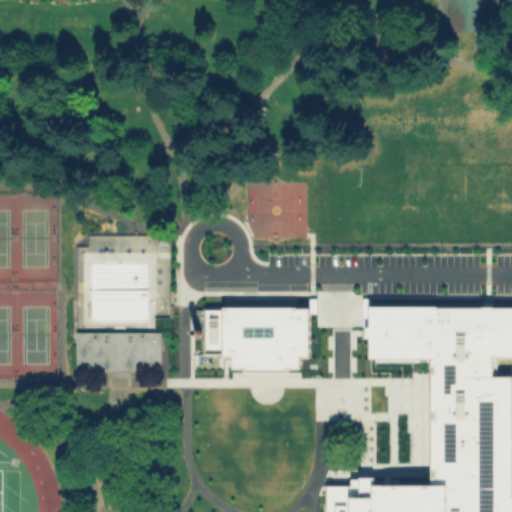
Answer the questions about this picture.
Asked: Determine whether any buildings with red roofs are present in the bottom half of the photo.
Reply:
No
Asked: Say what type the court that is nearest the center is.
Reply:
basketball court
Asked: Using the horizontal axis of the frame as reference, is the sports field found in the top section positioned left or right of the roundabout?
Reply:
to the right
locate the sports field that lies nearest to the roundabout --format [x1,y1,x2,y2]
[316,88,512,244]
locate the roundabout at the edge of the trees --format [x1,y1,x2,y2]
[184,217,270,291]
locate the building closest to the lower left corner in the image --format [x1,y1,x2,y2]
[77,333,163,388]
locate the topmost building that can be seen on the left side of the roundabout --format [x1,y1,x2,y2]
[78,236,172,330]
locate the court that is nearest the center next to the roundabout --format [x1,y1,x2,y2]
[247,180,308,242]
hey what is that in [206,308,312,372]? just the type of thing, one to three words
building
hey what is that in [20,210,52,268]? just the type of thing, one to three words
tennis court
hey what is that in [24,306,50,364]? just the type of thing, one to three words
tennis court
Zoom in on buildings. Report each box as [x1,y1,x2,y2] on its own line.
[78,236,172,330]
[206,308,312,372]
[320,306,512,512]
[77,333,163,388]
